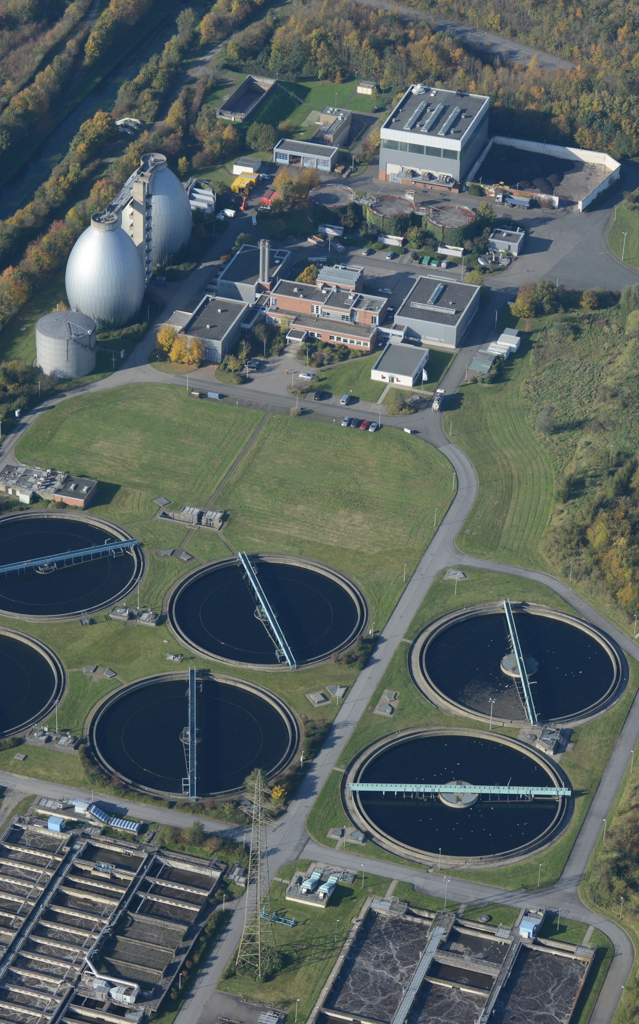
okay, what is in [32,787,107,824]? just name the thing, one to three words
building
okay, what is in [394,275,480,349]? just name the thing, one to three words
building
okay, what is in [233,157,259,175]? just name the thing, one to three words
shed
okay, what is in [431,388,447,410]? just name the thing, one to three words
vehicle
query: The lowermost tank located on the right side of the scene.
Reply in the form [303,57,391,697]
[315,911,592,1024]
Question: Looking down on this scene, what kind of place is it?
industrial area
